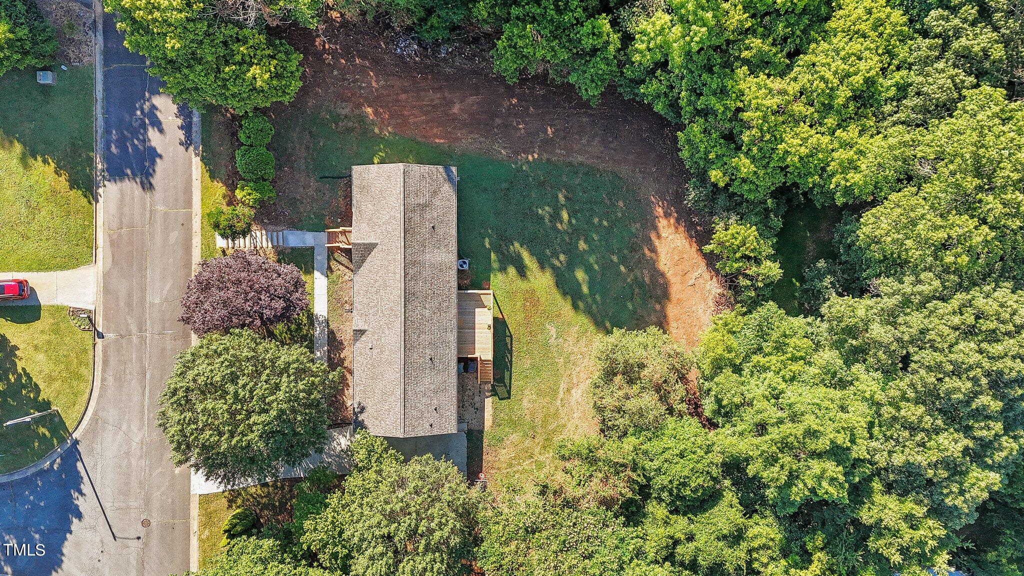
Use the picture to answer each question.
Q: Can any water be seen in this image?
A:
No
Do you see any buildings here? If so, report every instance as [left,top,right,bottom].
[349,162,465,437]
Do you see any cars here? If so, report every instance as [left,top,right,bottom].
[0,278,32,302]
